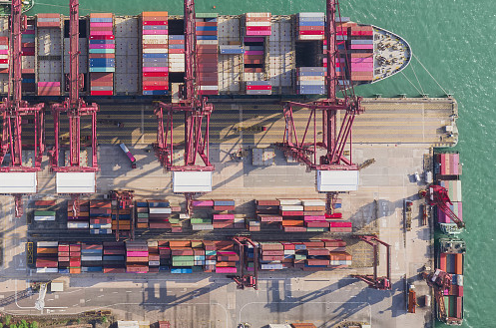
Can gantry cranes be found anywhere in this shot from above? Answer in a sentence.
Yes, the frame does contain a gantry crane.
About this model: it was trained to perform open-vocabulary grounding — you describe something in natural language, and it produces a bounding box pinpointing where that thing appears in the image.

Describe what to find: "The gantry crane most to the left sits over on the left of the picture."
[0,0,52,211]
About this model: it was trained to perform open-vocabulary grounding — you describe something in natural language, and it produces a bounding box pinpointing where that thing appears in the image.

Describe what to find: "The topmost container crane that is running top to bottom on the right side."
[278,0,367,210]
